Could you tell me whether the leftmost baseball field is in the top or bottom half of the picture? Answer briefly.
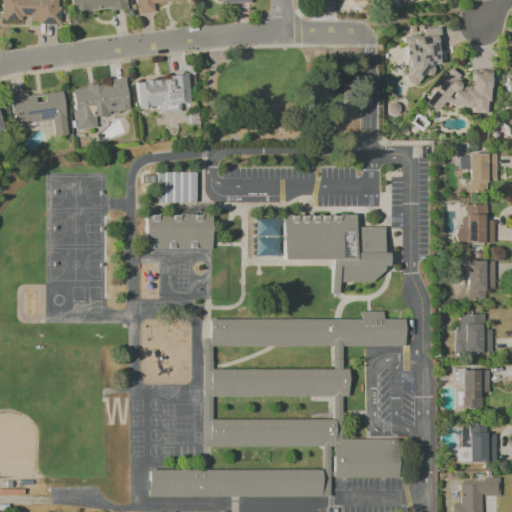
bottom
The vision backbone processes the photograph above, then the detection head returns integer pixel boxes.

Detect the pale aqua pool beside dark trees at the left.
[27,130,46,148]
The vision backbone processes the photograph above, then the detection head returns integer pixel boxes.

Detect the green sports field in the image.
[0,159,129,480]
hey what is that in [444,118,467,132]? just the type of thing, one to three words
swimming pool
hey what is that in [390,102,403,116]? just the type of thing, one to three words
gazebo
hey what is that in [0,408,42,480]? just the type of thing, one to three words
baseball field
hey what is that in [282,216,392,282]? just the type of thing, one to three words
building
